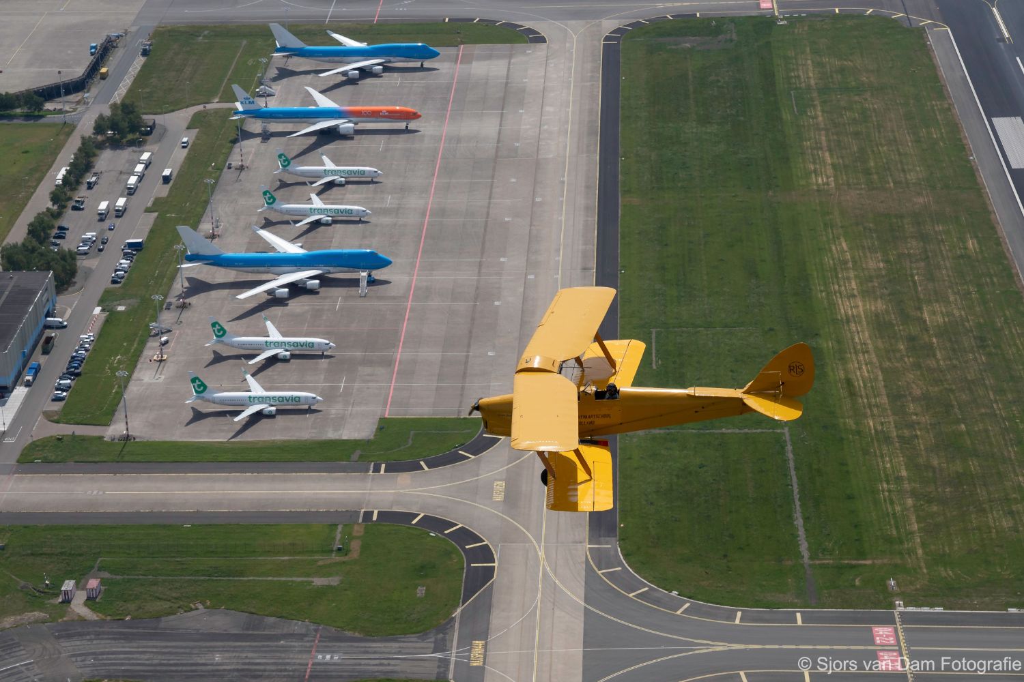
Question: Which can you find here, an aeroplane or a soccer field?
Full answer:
Of the two, only an aeroplane appears.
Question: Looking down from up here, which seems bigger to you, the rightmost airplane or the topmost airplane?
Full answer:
The rightmost airplane covers a greater area than the topmost airplane.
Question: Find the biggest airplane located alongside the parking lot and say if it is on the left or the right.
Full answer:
The biggest airplane located alongside the parking lot sits on the left side.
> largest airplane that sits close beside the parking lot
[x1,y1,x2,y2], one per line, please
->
[172,224,391,299]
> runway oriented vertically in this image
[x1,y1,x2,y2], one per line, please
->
[938,0,1024,211]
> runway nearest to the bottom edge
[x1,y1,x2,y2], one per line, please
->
[0,614,484,682]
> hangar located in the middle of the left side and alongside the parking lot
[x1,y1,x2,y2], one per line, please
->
[0,266,56,392]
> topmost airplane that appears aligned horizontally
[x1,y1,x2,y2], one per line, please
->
[266,23,441,78]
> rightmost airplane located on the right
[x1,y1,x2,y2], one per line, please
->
[470,282,815,511]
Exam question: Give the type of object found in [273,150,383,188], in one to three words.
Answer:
airplane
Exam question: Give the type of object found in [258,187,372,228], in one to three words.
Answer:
airplane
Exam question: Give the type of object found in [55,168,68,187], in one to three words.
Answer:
vehicle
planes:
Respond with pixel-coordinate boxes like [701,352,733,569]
[172,224,391,299]
[186,367,323,422]
[206,315,336,365]
[227,84,423,138]
[266,23,441,78]
[470,282,815,511]
[273,150,383,188]
[258,187,372,228]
